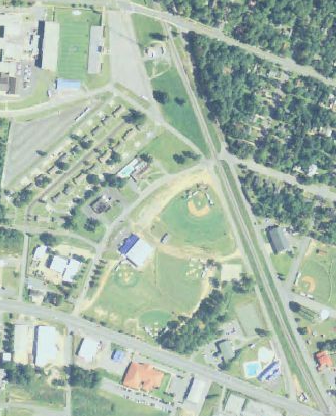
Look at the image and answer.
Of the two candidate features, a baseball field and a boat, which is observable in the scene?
baseball field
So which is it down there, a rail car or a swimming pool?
swimming pool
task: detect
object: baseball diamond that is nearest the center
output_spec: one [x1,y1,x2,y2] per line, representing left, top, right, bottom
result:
[157,186,237,255]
